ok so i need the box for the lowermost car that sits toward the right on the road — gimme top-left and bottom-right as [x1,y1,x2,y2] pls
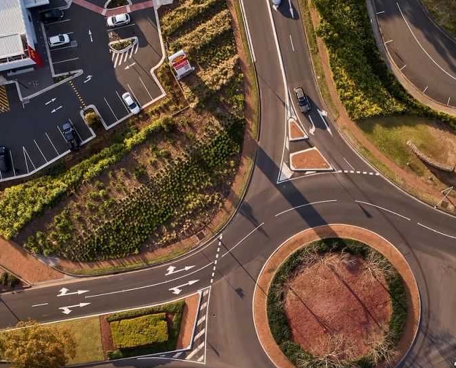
[293,85,309,113]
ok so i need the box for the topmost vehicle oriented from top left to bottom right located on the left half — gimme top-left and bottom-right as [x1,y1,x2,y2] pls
[120,90,140,116]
